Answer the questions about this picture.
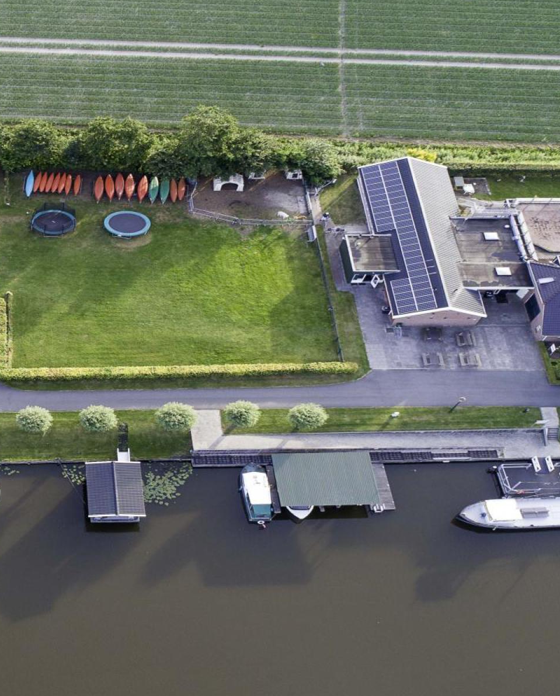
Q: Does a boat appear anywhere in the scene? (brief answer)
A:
Yes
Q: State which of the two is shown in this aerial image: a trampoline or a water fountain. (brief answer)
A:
trampoline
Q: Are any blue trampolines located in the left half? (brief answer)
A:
Yes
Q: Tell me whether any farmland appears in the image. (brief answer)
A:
Yes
